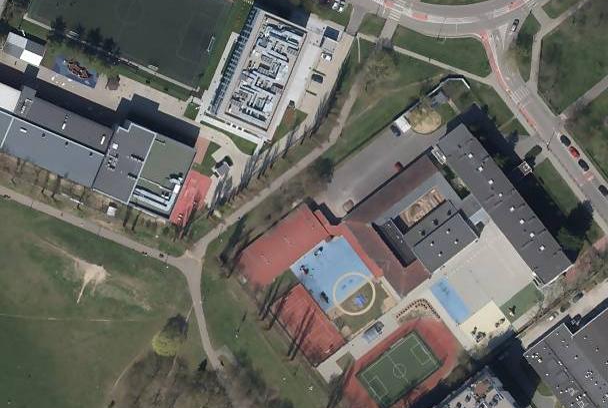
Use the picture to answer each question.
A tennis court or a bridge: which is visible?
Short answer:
tennis court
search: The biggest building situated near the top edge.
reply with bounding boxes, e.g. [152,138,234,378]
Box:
[210,6,309,141]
